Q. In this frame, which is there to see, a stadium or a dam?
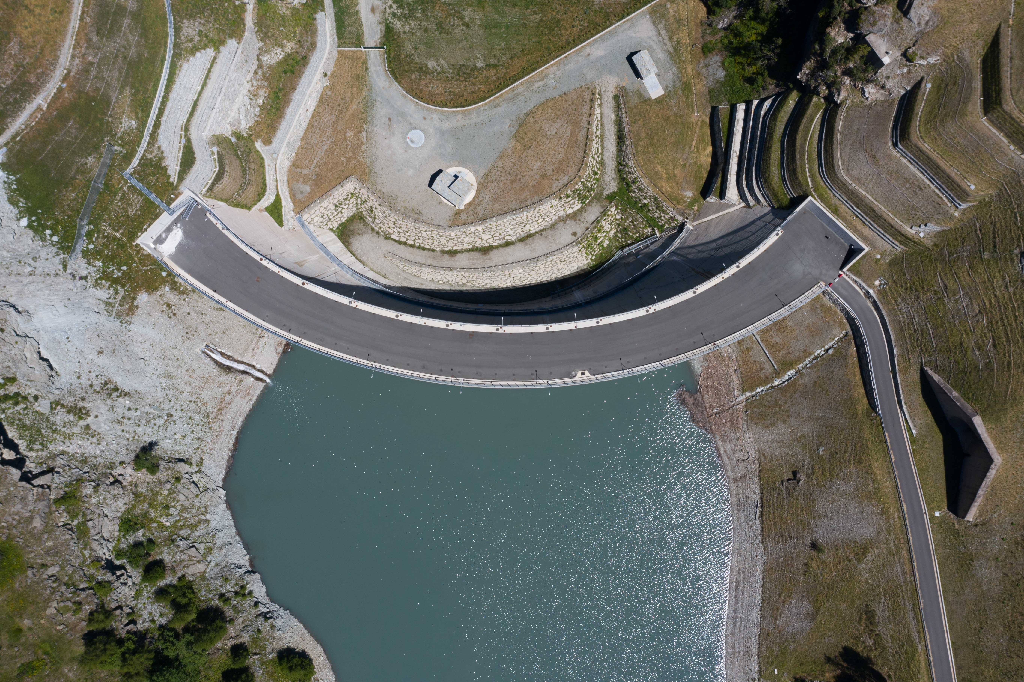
dam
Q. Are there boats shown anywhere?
No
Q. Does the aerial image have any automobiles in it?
No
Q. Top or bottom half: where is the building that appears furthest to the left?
top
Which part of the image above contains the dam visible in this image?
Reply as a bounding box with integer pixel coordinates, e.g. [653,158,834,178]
[136,189,867,387]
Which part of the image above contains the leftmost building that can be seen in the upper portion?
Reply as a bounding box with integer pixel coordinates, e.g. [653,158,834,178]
[432,167,477,210]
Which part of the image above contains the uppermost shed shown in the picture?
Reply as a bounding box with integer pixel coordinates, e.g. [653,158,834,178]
[630,50,664,100]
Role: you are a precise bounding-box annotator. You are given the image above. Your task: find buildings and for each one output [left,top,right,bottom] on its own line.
[630,50,664,100]
[432,167,477,210]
